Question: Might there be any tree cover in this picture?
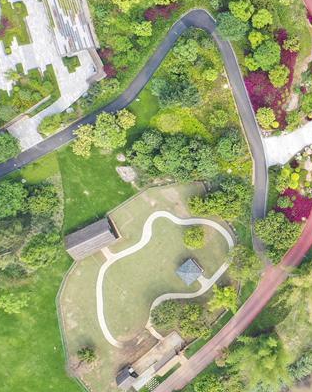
Yes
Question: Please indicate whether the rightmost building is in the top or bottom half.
bottom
